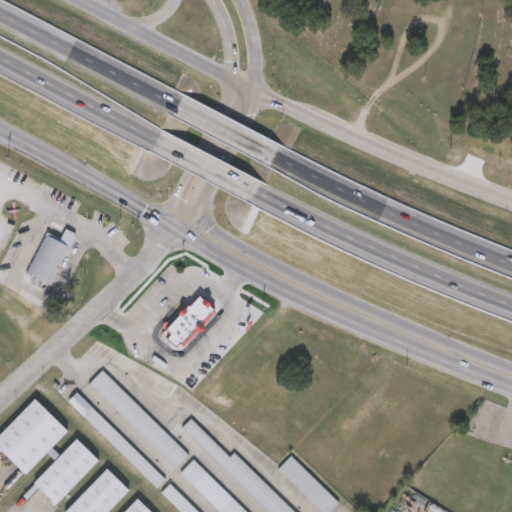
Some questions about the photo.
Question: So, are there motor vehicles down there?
Yes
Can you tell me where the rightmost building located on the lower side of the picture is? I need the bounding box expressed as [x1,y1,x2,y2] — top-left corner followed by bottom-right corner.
[279,456,338,512]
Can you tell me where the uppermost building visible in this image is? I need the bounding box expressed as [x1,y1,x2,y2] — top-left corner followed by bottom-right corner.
[27,228,76,284]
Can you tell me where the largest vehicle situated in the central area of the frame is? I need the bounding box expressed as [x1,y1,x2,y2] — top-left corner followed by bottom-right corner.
[284,208,313,225]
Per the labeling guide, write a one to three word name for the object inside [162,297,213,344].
building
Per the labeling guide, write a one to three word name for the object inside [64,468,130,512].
building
